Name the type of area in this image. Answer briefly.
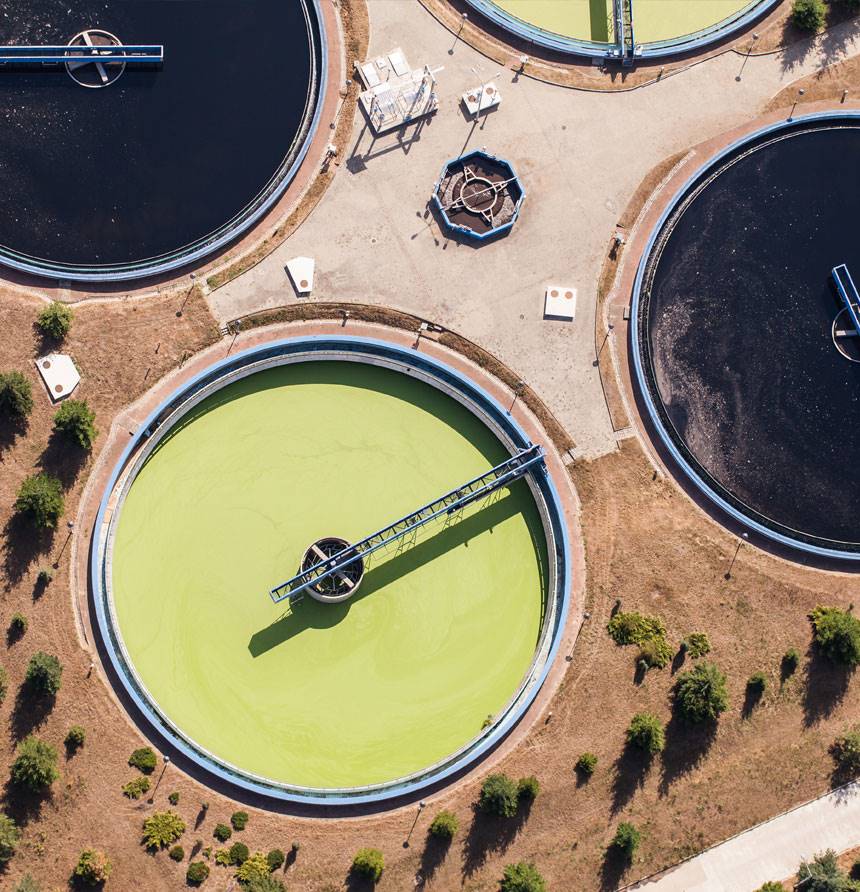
industrial area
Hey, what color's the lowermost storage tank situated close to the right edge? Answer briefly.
black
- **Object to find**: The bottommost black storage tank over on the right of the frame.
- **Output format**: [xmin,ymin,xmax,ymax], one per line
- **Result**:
[631,109,860,563]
